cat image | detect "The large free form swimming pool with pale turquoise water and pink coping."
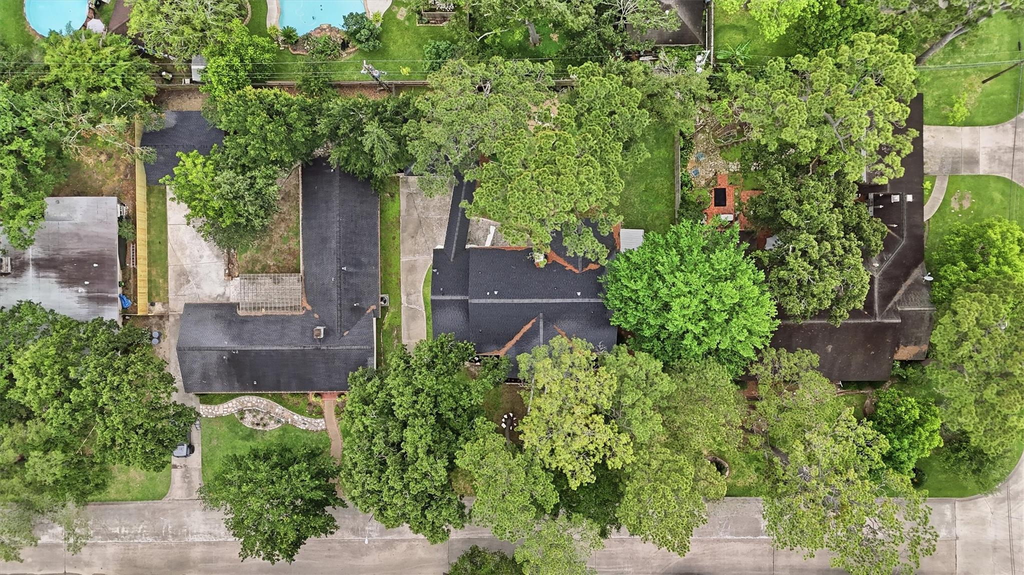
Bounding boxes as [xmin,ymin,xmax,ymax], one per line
[274,0,371,37]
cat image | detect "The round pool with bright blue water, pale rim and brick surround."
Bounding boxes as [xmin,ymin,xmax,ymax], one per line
[24,0,88,35]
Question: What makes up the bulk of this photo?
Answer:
trees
